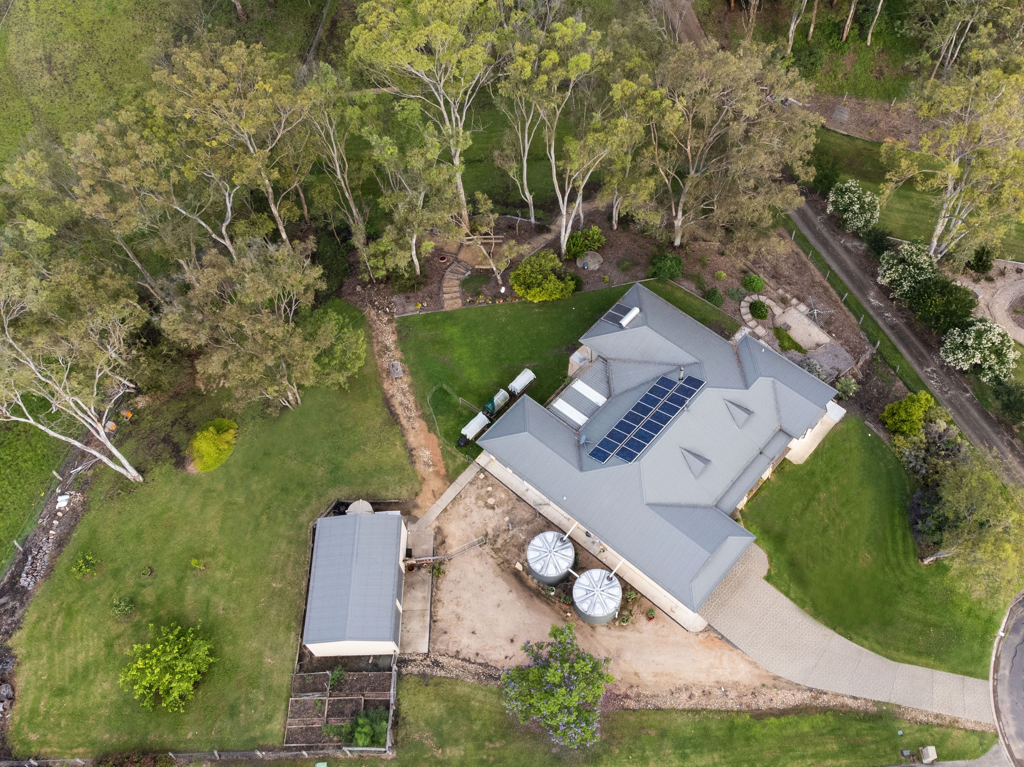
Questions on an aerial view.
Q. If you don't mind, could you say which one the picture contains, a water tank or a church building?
water tank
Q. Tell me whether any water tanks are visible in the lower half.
Yes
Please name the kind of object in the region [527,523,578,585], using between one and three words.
water tank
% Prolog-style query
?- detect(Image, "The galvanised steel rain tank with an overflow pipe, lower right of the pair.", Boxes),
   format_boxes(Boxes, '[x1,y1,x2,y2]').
[571,560,624,624]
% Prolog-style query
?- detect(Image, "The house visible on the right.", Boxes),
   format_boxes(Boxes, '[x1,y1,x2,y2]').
[475,282,838,616]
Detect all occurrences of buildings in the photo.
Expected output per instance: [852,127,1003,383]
[302,512,407,654]
[475,282,838,616]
